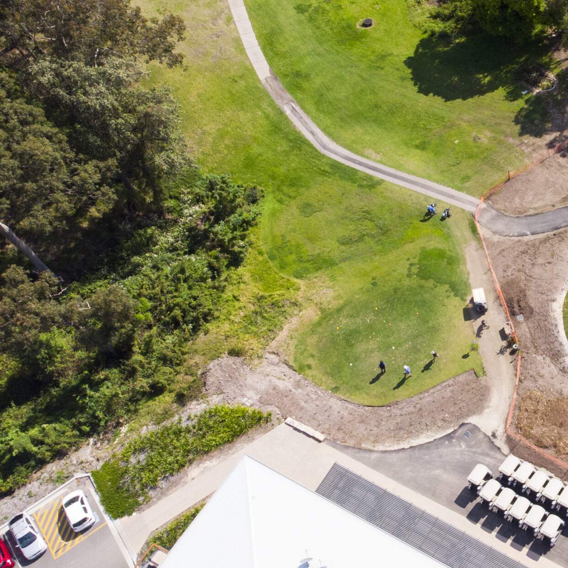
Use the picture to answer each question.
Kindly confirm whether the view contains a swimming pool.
No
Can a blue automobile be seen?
No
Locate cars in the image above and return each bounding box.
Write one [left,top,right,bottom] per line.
[63,490,98,537]
[0,546,16,568]
[6,512,50,561]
